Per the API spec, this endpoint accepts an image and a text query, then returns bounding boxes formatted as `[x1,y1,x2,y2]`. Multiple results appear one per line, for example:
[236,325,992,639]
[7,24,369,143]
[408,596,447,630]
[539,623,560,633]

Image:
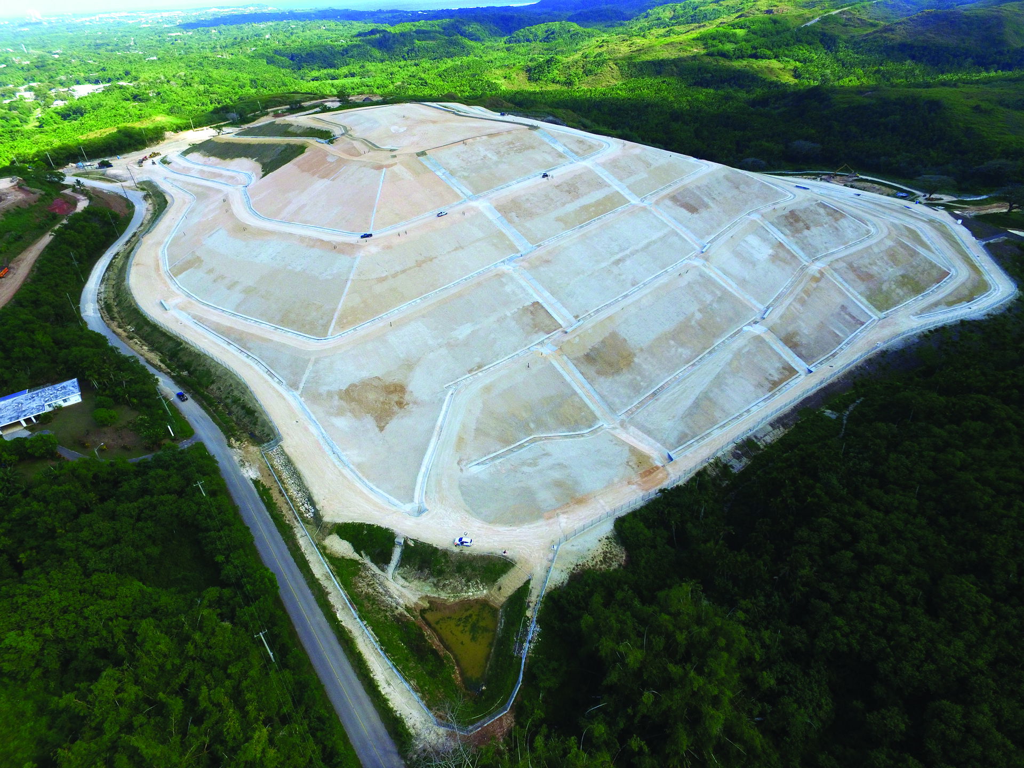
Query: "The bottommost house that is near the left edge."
[0,377,82,433]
